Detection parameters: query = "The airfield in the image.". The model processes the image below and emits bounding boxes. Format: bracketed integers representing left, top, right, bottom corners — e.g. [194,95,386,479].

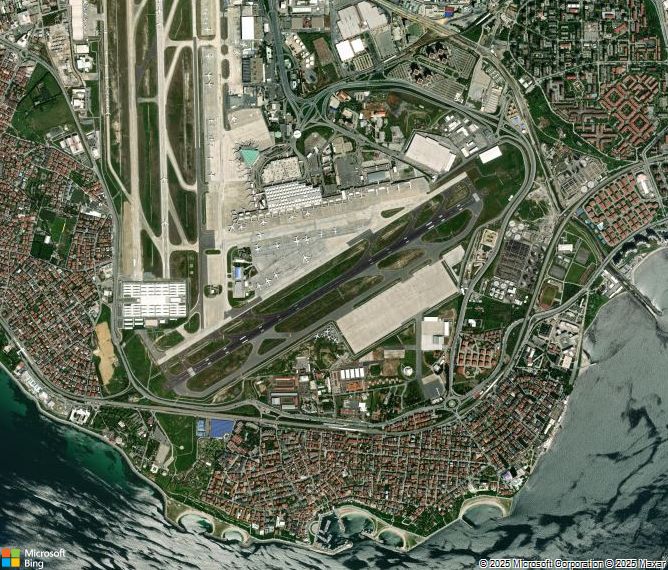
[84,0,486,400]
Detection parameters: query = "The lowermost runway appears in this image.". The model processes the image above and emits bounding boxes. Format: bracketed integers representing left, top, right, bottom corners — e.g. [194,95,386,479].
[160,191,483,393]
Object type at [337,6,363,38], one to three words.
building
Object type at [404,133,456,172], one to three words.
building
